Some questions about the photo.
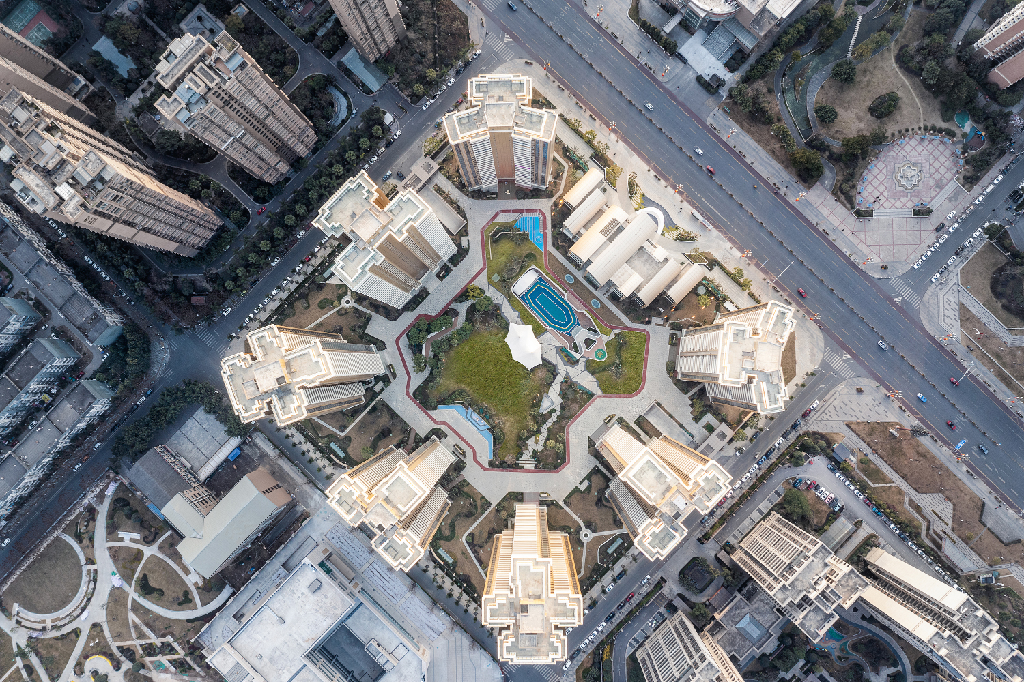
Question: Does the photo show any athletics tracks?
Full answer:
Yes, looking at the shot, I can spot an athletics track.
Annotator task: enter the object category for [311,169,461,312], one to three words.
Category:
building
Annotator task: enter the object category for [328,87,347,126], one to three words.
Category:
swimming pool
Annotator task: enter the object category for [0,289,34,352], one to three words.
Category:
building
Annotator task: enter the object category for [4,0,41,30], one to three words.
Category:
tennis court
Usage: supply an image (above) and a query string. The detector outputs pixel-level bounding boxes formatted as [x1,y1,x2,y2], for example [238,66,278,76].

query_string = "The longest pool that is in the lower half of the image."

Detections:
[438,404,493,460]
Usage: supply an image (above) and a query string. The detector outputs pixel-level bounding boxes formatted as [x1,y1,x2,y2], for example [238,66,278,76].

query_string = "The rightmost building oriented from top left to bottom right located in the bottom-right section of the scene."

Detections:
[860,548,1024,682]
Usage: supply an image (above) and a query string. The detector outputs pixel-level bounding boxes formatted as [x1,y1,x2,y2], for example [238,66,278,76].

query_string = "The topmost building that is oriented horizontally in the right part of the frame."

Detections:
[662,0,798,61]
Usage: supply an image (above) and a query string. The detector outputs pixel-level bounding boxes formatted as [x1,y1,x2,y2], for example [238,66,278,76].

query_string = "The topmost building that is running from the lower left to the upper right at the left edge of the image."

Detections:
[0,339,75,434]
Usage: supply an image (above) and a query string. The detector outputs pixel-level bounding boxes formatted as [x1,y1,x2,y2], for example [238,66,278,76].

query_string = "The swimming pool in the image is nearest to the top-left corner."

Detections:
[92,35,129,73]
